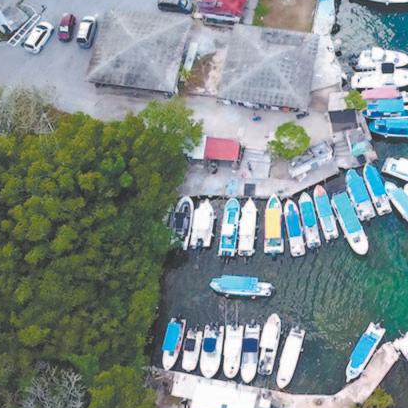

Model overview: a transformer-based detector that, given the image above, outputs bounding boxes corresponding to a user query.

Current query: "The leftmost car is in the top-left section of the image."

[19,18,56,54]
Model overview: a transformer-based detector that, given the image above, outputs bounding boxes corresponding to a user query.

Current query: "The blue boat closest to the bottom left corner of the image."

[161,314,188,369]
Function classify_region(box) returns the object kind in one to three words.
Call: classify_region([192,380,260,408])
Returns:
house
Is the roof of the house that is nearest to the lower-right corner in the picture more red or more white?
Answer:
white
